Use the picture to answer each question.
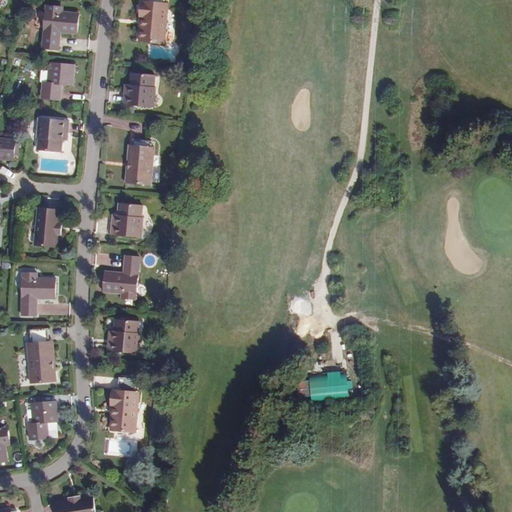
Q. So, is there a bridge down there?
No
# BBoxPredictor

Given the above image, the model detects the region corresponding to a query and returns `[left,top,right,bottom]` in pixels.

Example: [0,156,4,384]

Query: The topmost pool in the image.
[148,44,177,62]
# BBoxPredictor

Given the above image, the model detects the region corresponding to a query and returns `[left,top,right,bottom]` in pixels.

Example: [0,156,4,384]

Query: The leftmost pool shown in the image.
[40,158,68,173]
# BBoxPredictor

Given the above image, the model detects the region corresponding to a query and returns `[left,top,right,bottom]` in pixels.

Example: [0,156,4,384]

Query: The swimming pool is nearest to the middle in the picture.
[142,253,159,268]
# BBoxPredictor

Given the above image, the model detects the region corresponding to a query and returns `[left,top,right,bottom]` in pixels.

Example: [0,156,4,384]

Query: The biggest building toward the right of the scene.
[310,370,353,404]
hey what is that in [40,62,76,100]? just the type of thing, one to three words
house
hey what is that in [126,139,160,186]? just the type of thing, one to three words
house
